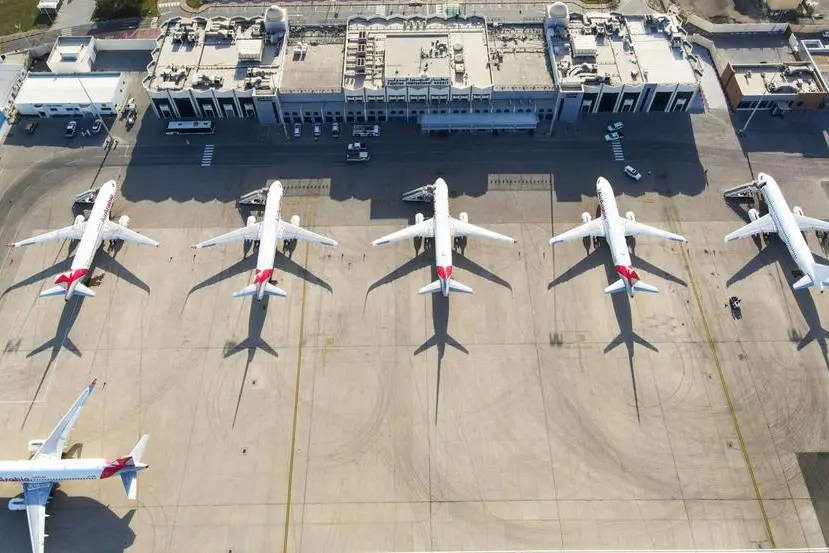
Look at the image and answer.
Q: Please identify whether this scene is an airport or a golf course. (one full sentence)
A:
The picture captures an airport.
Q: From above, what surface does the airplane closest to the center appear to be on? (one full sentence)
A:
In this view, the airplane closest to the center is located on the apron.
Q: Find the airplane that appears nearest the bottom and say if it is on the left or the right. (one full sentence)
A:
It is on the left.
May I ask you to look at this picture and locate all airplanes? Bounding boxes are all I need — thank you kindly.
[0,382,150,553]
[196,180,337,300]
[725,173,829,290]
[8,181,160,301]
[549,177,687,296]
[373,178,512,297]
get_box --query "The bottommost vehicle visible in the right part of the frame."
[729,299,742,316]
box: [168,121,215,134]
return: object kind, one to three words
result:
vehicle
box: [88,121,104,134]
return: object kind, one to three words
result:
vehicle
